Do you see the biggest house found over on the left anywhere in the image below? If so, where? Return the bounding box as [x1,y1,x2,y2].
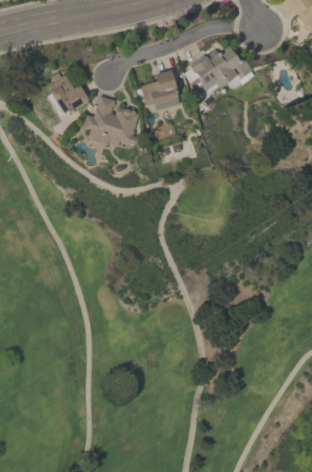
[82,96,142,146]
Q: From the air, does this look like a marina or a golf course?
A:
golf course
